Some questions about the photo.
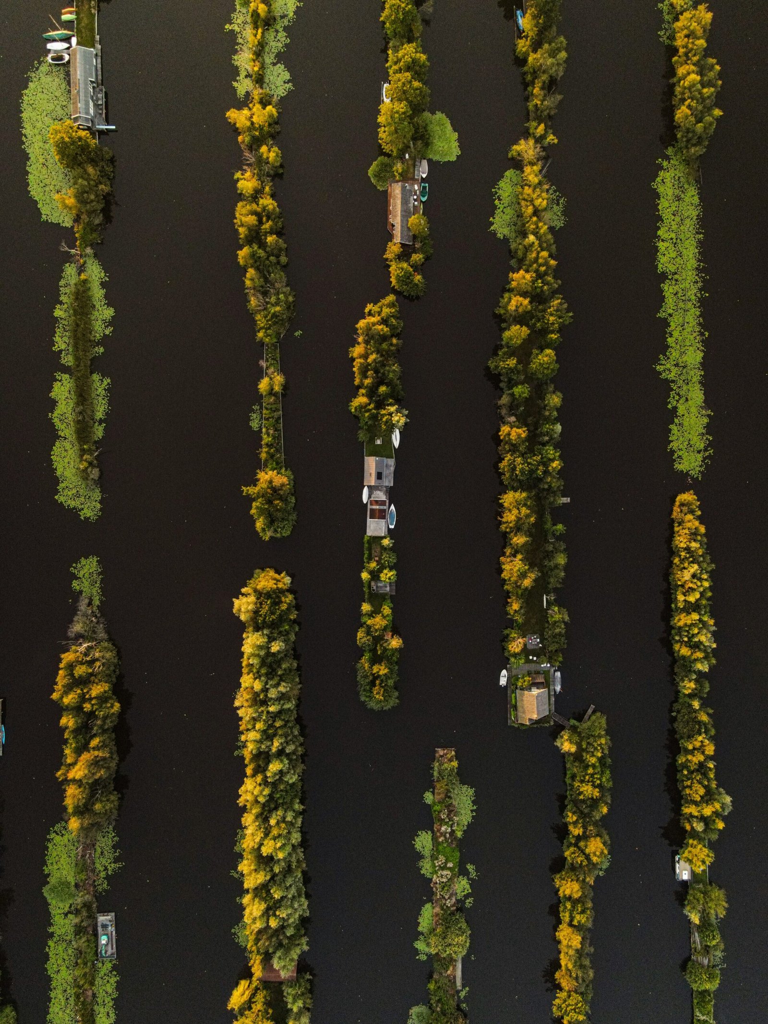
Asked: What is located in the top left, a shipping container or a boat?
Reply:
boat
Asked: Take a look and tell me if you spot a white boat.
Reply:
Yes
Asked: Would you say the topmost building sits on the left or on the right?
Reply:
left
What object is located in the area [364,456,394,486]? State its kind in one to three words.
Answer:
house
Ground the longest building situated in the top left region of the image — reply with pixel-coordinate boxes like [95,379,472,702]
[70,45,97,128]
